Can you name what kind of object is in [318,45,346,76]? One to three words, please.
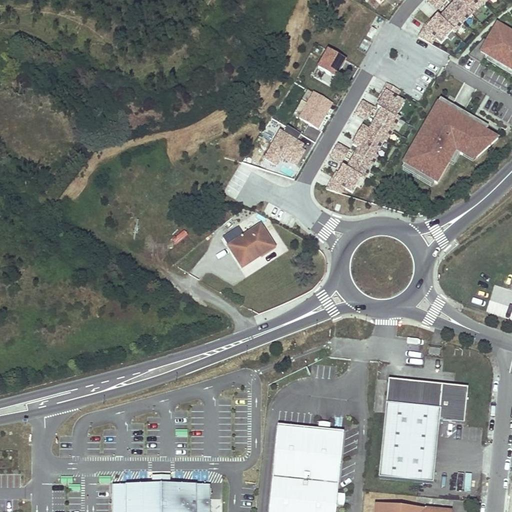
house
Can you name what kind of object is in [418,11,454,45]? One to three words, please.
house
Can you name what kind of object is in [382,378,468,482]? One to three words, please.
building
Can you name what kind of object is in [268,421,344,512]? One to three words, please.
building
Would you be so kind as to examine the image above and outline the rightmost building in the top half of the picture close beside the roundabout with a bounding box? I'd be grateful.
[402,97,499,188]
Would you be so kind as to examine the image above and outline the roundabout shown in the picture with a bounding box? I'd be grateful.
[306,210,464,332]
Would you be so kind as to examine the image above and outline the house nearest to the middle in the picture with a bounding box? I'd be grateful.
[223,221,276,268]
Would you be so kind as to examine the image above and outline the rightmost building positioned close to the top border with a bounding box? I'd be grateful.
[480,20,512,74]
